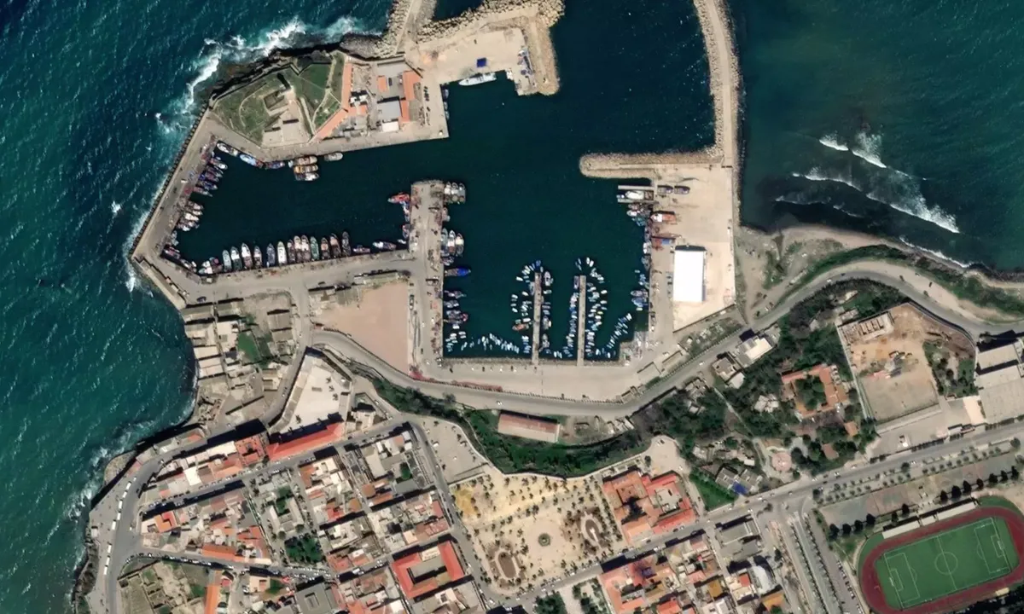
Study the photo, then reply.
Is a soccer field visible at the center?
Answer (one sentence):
No, there is no soccer field at the center.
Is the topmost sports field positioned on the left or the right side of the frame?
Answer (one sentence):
You can find the topmost sports field on the right side of the picture.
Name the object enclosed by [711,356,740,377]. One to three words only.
house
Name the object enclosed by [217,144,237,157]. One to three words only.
boat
